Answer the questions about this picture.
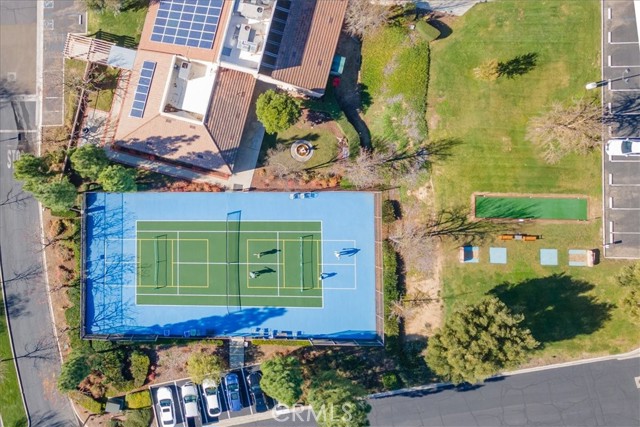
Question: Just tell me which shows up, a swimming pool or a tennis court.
tennis court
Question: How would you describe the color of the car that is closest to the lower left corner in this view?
white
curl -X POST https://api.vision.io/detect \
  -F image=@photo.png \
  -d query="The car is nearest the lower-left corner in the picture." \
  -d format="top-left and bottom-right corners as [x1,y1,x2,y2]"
[156,386,176,427]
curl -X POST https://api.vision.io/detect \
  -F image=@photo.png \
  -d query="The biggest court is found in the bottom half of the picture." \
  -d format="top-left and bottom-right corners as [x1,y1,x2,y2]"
[84,191,378,341]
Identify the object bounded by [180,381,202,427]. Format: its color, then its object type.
white car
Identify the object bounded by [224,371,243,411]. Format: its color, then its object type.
blue car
